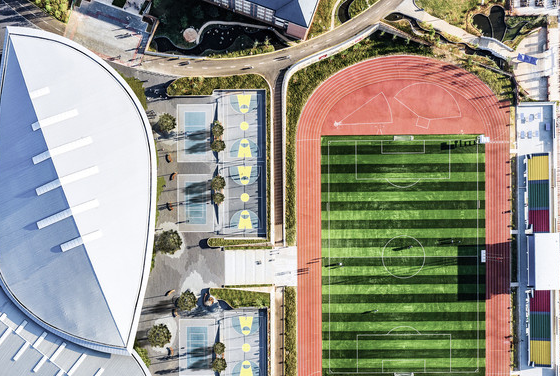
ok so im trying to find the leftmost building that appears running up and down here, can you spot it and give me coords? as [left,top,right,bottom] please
[0,28,157,354]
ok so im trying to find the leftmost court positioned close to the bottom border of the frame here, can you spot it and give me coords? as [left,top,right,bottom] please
[179,319,216,376]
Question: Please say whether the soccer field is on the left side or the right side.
right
